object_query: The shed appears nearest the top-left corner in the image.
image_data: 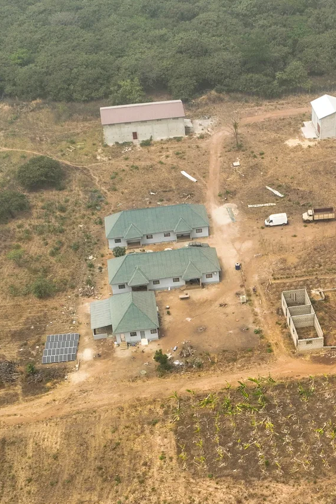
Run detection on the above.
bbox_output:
[100,99,194,144]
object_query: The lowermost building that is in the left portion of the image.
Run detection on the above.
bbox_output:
[90,290,160,348]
